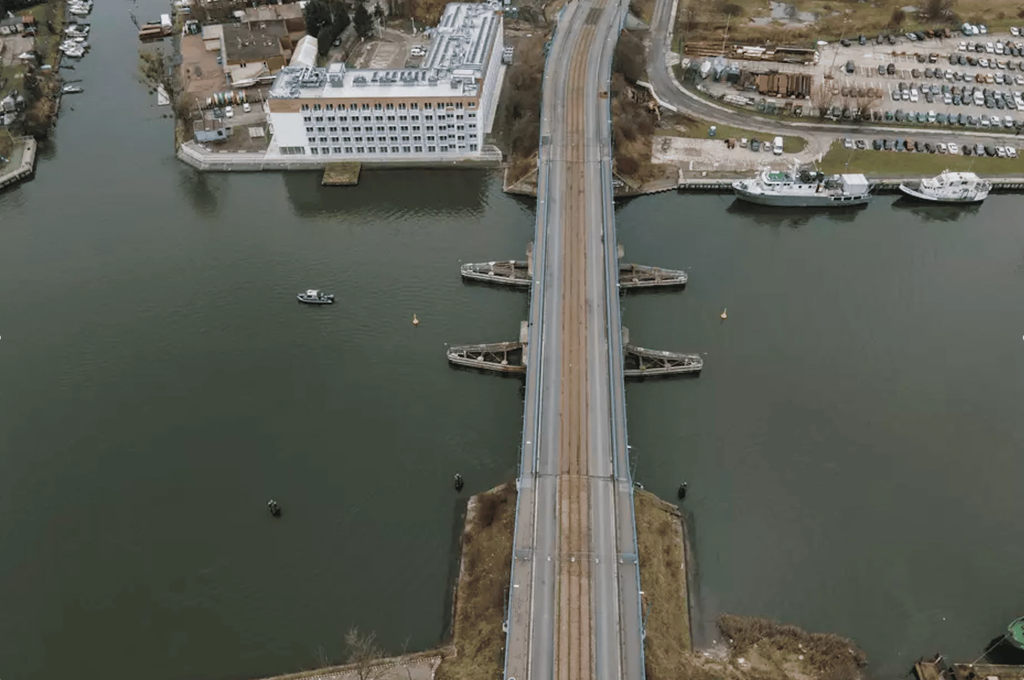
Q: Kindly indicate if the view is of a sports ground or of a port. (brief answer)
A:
port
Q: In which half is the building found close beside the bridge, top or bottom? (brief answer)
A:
top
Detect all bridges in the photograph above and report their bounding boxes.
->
[505,0,647,680]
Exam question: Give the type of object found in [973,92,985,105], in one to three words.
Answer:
vehicle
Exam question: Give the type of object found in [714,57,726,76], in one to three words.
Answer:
boat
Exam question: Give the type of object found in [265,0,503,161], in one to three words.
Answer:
building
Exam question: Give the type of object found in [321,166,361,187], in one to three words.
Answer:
pier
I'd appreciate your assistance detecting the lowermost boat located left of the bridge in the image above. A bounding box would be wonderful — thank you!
[296,288,336,307]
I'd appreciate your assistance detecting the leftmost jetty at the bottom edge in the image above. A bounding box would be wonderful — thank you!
[910,651,950,680]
